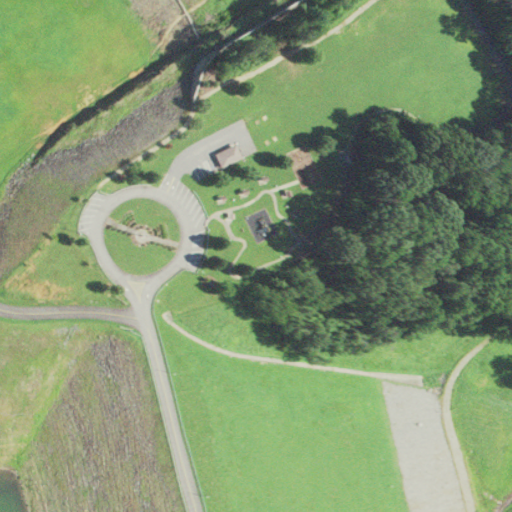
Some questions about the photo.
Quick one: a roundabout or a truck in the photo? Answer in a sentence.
I can see a roundabout in this picture.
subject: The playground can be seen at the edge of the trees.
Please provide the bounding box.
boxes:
[246,209,276,243]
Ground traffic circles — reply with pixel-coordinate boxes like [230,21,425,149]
[78,119,256,316]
